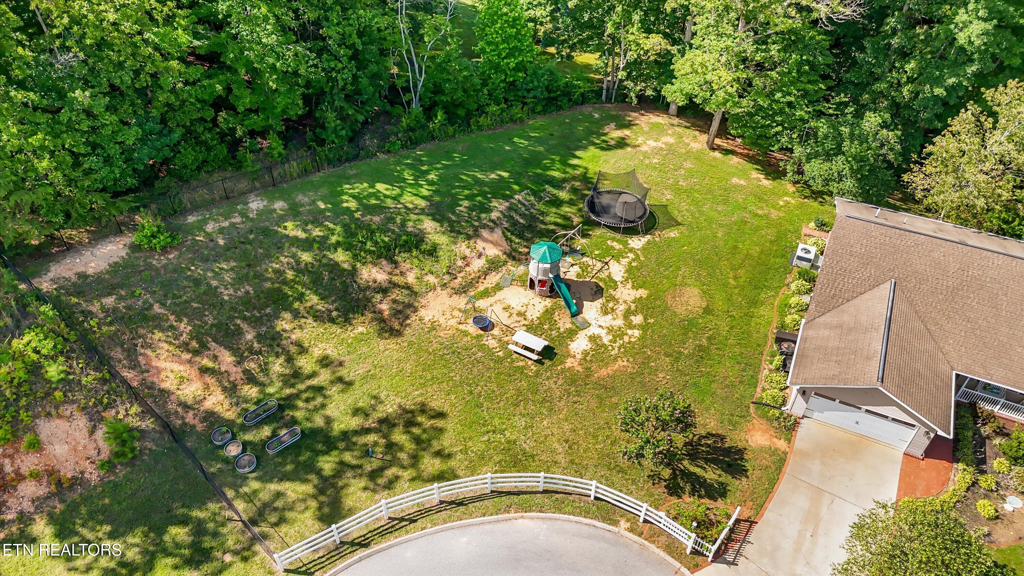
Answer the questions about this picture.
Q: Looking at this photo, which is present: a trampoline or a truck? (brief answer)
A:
trampoline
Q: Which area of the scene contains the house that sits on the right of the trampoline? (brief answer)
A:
right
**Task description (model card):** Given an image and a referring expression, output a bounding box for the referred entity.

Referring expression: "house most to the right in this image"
[781,196,1024,460]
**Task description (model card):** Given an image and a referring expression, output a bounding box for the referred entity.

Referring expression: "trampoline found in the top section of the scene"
[583,170,652,237]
